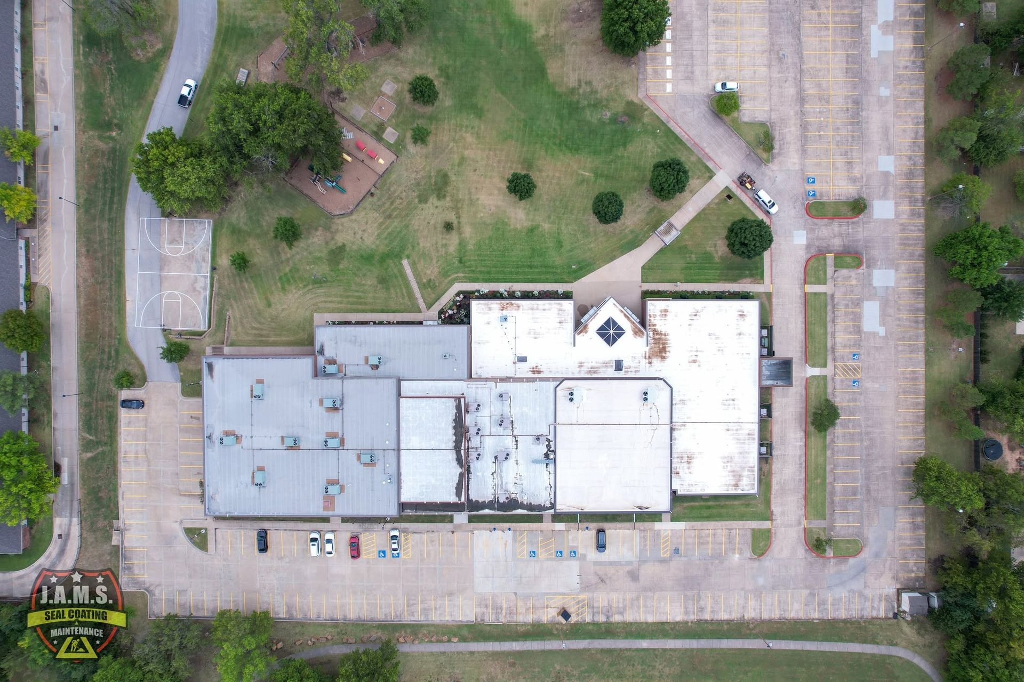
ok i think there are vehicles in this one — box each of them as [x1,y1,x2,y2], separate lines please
[348,536,360,559]
[715,80,739,92]
[256,529,268,553]
[178,79,197,109]
[596,528,607,552]
[120,399,145,410]
[309,531,321,556]
[755,189,776,214]
[389,528,400,553]
[324,532,335,557]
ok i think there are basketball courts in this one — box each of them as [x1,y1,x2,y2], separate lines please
[135,216,213,331]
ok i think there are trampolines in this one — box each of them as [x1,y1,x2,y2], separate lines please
[983,441,1003,460]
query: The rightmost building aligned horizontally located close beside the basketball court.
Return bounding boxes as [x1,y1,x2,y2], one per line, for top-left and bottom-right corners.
[202,297,760,518]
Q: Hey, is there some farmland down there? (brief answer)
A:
No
